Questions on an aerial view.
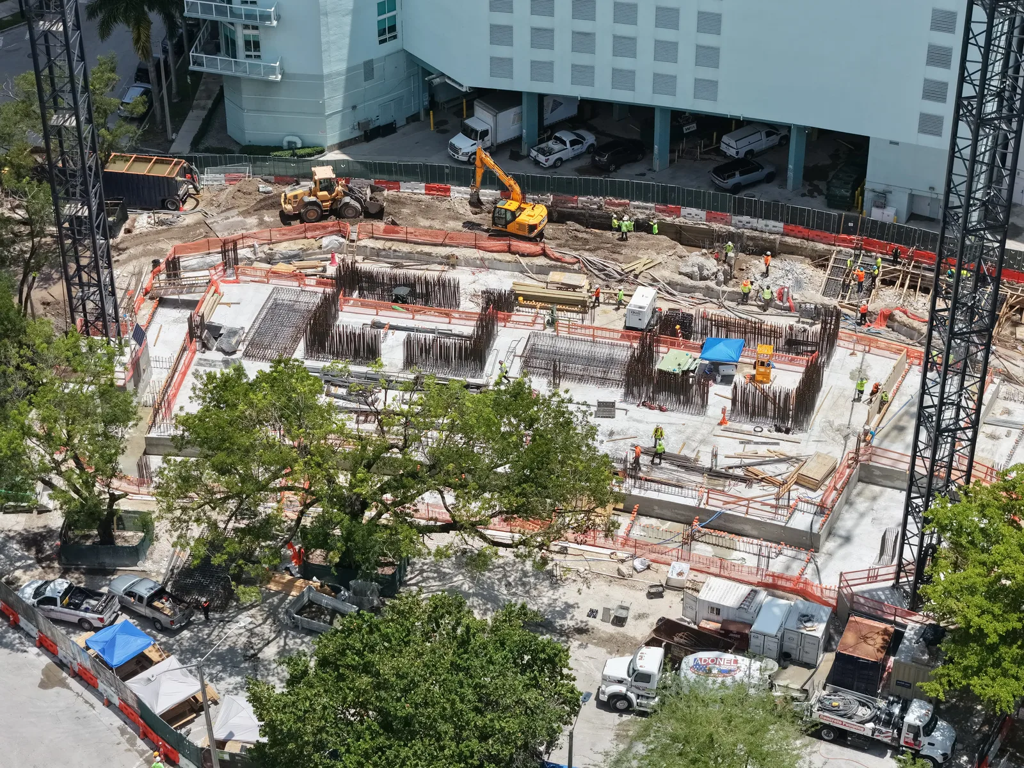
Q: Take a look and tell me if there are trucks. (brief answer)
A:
Yes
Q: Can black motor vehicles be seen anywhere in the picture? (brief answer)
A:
Yes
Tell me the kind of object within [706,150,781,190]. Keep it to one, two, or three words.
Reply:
car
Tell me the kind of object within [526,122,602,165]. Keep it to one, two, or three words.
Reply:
truck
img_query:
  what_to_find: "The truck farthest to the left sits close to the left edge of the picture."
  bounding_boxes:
[12,568,120,631]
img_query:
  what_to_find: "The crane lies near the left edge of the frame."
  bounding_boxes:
[24,0,129,347]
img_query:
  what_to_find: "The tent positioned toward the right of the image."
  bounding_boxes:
[698,337,744,386]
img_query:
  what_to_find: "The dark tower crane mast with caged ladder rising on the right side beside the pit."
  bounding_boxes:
[886,0,1024,613]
